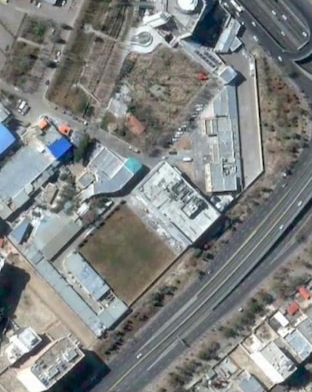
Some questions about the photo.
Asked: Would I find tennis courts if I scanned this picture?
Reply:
No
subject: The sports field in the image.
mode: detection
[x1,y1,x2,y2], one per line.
[80,206,174,303]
